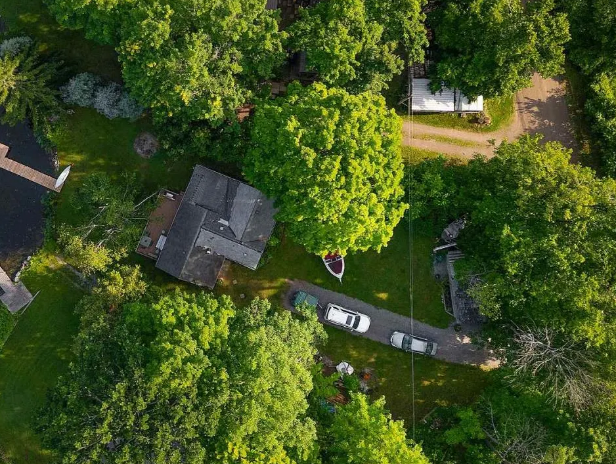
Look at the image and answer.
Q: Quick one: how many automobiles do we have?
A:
2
